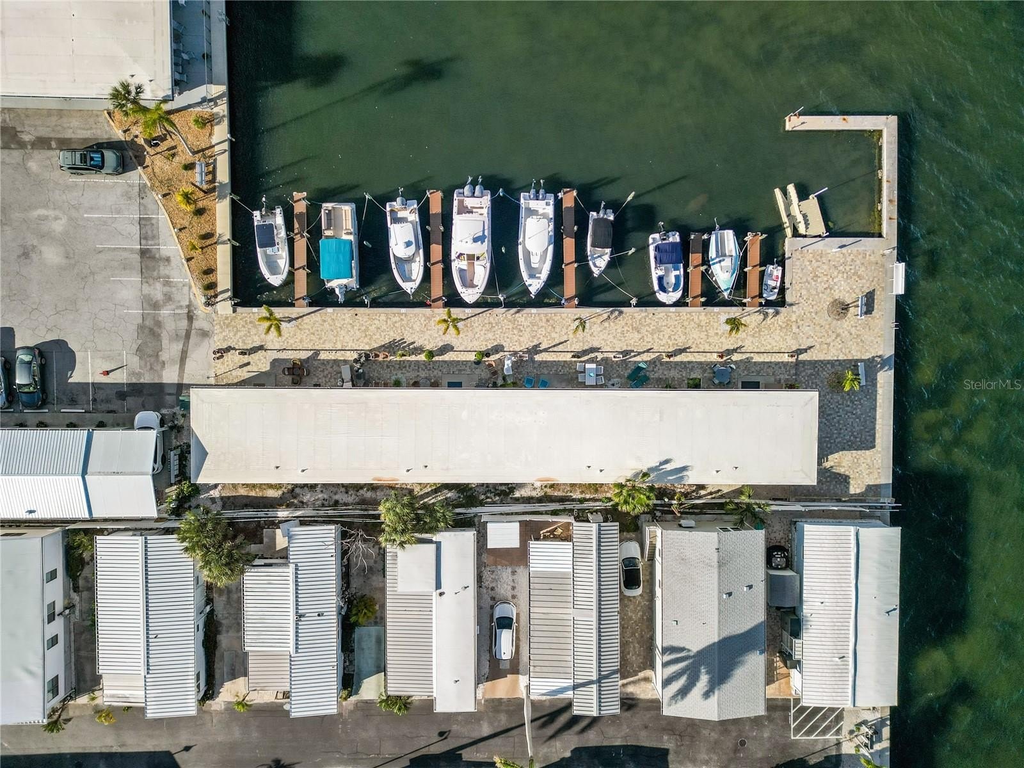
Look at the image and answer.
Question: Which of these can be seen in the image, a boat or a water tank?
boat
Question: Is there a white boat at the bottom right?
No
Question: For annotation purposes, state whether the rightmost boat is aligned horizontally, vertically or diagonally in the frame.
vertically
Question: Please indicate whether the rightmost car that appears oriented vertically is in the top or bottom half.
bottom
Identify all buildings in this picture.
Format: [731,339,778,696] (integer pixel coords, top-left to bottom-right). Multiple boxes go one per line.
[191,388,818,484]
[642,523,767,719]
[386,526,481,711]
[243,523,346,715]
[778,520,902,708]
[0,533,67,725]
[528,521,621,717]
[0,428,177,520]
[94,532,211,718]
[487,519,520,549]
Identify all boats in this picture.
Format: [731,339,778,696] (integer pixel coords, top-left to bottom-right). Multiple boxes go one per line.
[516,178,554,299]
[386,183,425,297]
[450,167,494,302]
[709,222,740,299]
[648,218,684,304]
[253,196,292,286]
[761,256,781,301]
[319,203,357,304]
[585,201,613,278]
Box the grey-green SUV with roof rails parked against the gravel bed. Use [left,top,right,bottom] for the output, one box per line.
[59,146,125,177]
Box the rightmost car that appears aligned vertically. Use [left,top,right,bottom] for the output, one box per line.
[621,539,645,597]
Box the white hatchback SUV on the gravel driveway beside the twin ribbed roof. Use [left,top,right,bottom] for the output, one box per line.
[490,600,519,660]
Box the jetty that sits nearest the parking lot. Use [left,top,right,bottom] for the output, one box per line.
[293,192,308,307]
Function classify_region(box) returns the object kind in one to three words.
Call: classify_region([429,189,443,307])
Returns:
pier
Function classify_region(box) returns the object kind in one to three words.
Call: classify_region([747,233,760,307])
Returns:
pier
